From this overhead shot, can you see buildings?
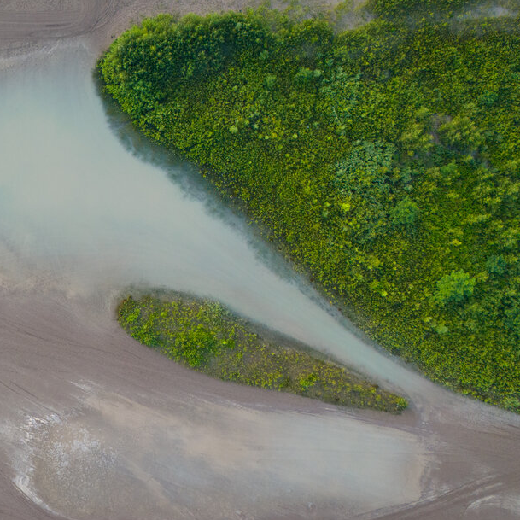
No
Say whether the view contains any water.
Yes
